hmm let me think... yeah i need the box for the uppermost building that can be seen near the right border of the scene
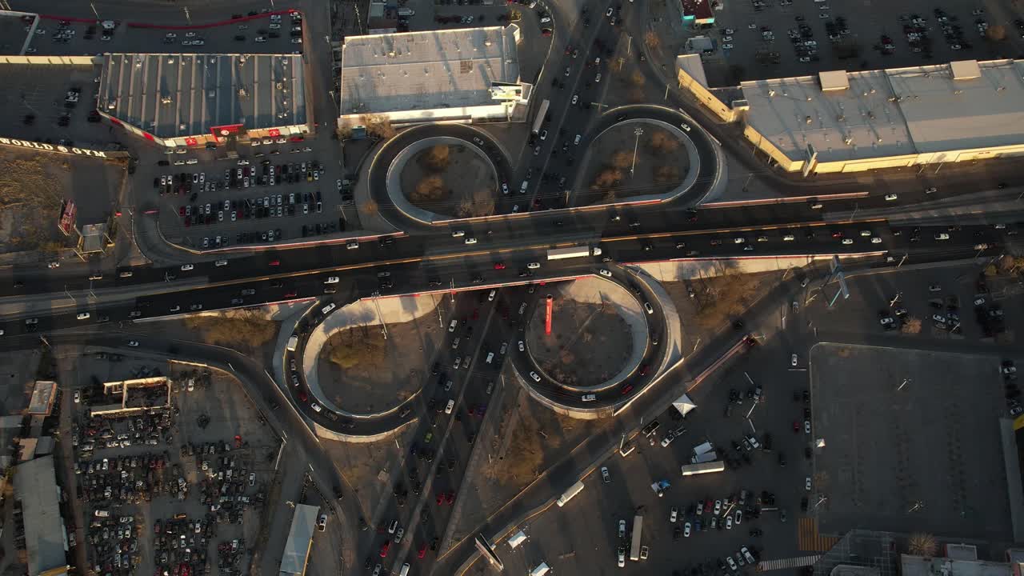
[740,59,1024,175]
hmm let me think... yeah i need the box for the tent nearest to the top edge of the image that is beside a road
[669,392,697,419]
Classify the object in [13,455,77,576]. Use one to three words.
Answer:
building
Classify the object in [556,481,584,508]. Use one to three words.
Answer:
truck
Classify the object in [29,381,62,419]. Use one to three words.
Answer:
building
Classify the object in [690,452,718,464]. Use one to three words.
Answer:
vehicle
